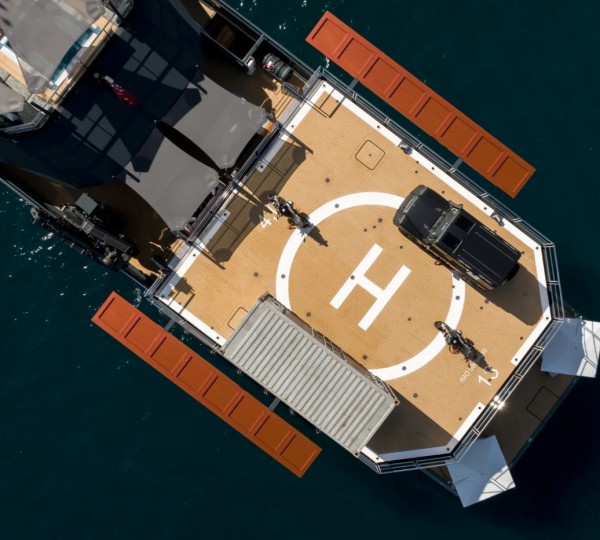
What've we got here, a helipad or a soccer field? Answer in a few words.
helipad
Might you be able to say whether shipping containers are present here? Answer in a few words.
Yes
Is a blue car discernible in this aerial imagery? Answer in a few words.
No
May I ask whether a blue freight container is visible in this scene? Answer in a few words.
No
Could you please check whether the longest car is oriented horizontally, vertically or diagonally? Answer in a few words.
diagonally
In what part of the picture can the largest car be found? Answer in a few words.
right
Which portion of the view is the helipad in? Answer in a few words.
center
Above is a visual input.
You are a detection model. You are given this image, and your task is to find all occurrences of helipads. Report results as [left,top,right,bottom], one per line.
[145,65,570,474]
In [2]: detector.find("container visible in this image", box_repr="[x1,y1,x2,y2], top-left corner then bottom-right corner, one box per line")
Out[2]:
[221,293,398,458]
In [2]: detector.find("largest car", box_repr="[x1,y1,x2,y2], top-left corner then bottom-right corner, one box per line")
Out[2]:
[396,187,517,291]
